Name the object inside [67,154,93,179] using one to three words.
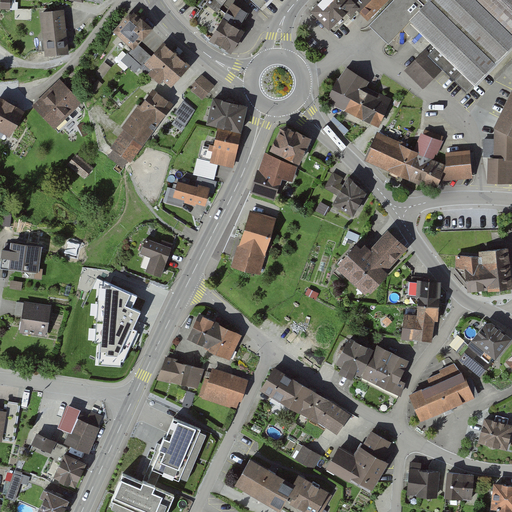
shed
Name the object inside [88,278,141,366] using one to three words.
building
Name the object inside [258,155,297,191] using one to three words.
house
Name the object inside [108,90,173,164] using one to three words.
barn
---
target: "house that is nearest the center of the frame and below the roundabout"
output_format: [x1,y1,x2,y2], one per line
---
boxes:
[230,210,276,276]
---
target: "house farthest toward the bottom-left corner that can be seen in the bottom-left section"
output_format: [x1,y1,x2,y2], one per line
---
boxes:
[2,474,30,502]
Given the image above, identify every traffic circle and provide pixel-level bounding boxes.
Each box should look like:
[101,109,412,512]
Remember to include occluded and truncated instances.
[242,46,314,118]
